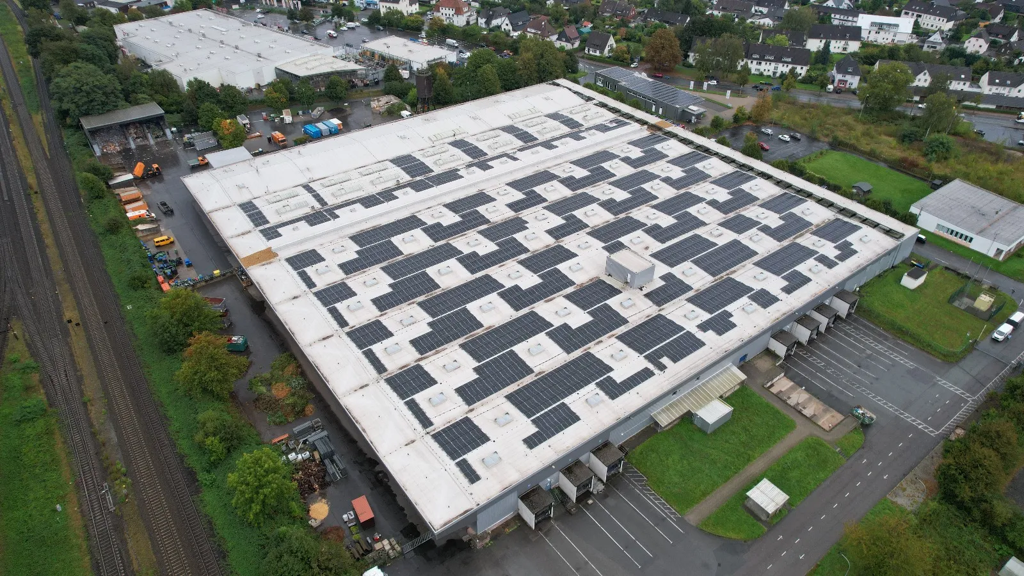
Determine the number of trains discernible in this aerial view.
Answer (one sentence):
There are no trains in this view.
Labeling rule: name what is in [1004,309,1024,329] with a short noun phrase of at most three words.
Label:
vehicle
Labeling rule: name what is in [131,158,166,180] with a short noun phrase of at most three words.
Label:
truck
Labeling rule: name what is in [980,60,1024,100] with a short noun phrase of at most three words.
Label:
house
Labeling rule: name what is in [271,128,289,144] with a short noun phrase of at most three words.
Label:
vehicle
